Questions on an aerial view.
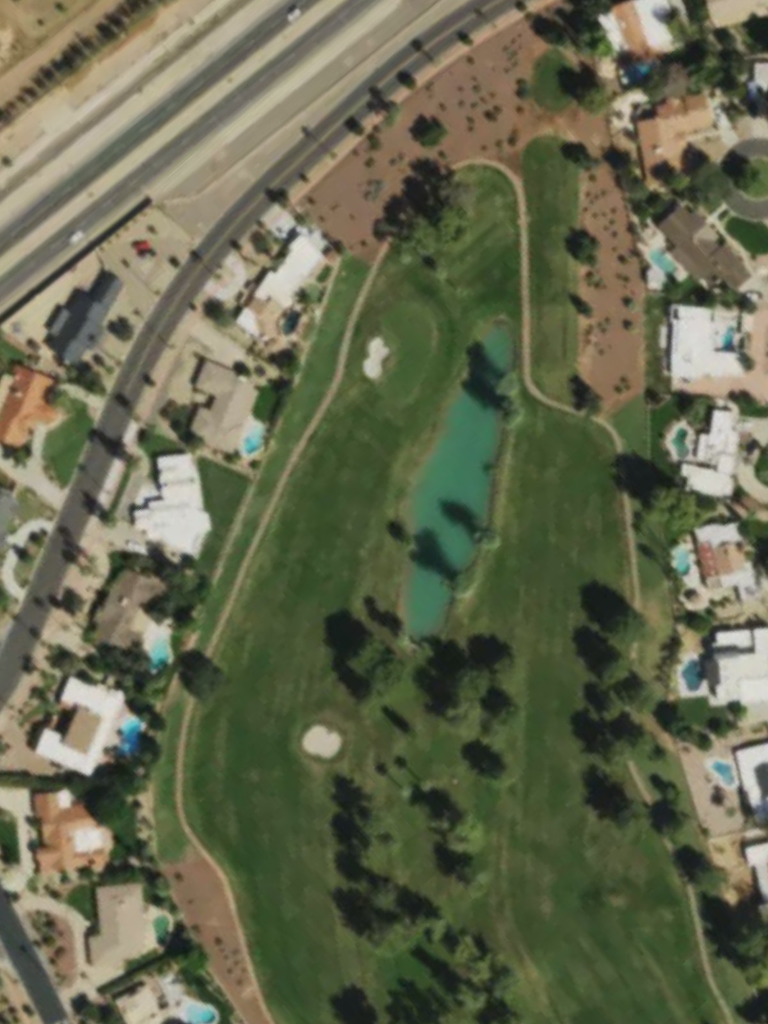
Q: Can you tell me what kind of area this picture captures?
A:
golf course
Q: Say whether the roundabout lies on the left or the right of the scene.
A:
right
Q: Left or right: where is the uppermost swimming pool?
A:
right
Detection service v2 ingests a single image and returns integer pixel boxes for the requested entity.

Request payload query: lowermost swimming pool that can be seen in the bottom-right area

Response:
[707,756,737,788]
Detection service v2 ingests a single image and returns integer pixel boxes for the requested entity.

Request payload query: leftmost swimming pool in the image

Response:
[106,712,141,755]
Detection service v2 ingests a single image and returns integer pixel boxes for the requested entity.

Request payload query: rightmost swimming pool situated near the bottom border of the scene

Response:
[178,997,221,1024]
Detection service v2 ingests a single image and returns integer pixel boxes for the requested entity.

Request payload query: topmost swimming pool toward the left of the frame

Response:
[280,307,302,339]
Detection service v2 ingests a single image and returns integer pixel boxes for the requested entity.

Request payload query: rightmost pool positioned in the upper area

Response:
[720,327,737,351]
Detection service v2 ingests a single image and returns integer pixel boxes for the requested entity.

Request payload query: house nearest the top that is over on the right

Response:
[603,0,684,58]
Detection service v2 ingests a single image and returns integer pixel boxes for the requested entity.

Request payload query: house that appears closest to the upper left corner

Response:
[42,265,128,364]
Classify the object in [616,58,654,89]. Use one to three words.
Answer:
swimming pool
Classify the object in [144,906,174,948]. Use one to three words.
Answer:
swimming pool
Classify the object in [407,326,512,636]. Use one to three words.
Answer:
pond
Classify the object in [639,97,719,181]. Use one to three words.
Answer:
house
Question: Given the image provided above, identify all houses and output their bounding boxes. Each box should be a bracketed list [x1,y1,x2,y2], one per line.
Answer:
[706,628,768,706]
[31,789,115,873]
[0,363,60,449]
[639,97,719,181]
[86,884,144,967]
[0,487,23,543]
[672,306,744,382]
[695,523,756,601]
[655,196,759,290]
[736,744,768,809]
[682,409,739,497]
[35,677,124,776]
[189,357,260,454]
[42,265,128,364]
[603,0,684,58]
[91,571,165,644]
[237,225,327,336]
[746,843,768,897]
[133,453,211,559]
[755,61,768,114]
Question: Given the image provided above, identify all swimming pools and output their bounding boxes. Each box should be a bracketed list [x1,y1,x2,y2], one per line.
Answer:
[106,712,141,755]
[143,622,174,667]
[178,997,221,1024]
[616,58,654,89]
[664,420,698,463]
[280,307,302,339]
[671,540,709,613]
[720,327,737,351]
[639,225,688,289]
[144,906,174,948]
[241,418,264,454]
[678,650,712,698]
[707,756,737,788]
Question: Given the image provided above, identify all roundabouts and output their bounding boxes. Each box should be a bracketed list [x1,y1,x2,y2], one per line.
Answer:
[719,138,768,220]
